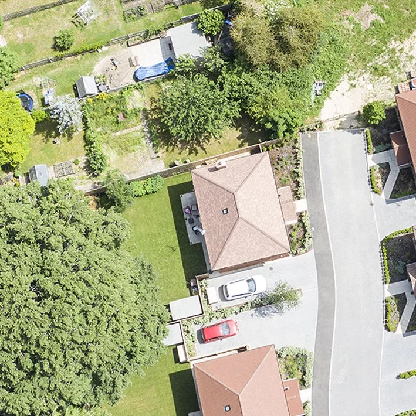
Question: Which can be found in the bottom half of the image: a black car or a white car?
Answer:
white car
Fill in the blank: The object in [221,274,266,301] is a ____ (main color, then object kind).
white car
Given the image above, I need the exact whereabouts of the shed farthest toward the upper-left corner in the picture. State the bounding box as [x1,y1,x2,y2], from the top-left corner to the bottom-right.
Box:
[77,76,101,99]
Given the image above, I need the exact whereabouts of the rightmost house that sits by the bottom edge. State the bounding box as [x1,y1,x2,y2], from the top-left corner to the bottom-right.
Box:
[193,345,307,416]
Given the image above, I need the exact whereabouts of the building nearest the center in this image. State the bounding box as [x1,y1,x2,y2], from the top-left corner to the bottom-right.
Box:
[191,151,299,270]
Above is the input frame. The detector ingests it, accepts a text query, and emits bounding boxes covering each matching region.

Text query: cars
[201,319,240,344]
[221,274,266,301]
